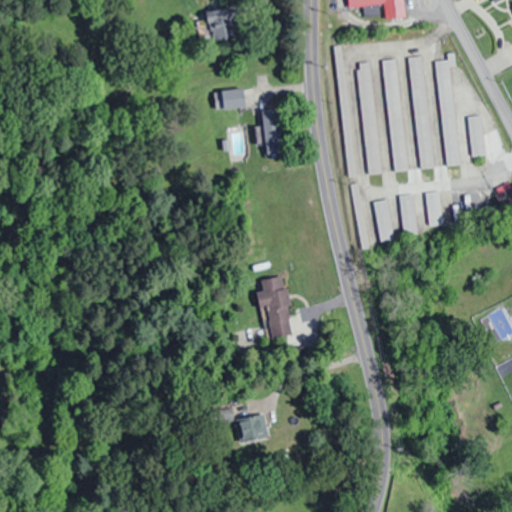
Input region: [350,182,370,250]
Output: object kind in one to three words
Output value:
shed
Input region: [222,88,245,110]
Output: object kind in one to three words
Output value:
building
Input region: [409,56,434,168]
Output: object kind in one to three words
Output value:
shed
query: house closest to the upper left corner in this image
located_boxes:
[197,8,236,40]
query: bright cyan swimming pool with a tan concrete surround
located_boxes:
[227,126,246,164]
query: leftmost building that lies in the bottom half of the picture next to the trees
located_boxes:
[238,412,272,446]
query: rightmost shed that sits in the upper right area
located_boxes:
[468,114,485,156]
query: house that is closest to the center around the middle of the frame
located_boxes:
[258,277,294,337]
